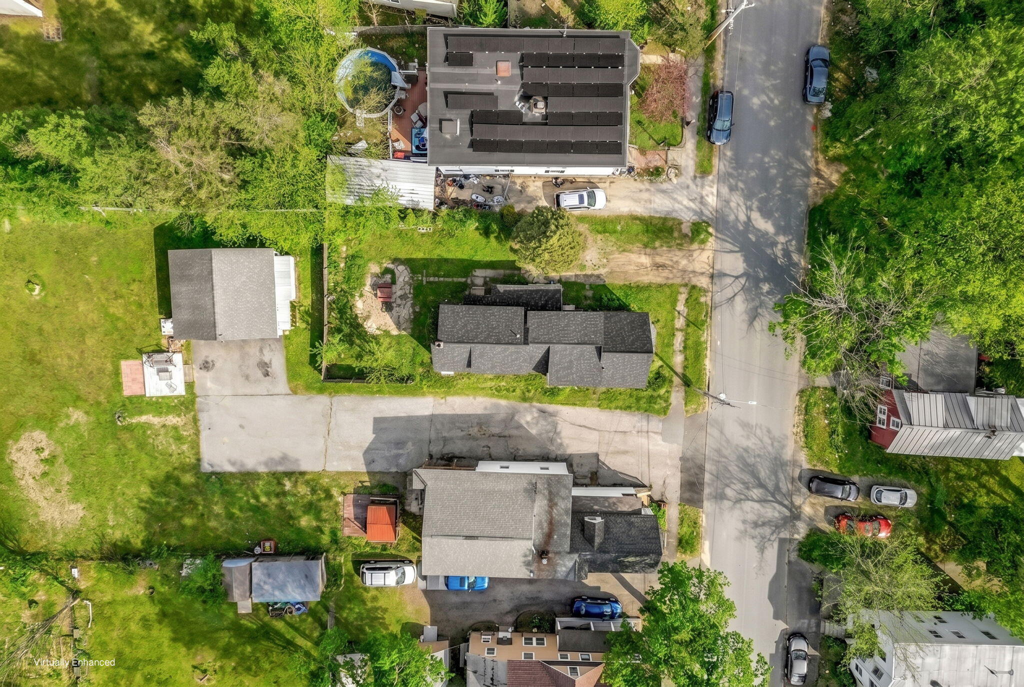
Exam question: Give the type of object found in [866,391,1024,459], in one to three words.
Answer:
house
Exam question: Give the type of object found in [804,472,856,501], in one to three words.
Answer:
car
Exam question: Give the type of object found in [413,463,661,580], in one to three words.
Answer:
house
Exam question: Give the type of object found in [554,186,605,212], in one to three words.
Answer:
car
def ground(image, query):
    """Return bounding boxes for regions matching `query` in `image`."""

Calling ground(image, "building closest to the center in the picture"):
[431,284,657,388]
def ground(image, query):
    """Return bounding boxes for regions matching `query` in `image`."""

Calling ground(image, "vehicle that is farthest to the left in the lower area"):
[363,557,417,585]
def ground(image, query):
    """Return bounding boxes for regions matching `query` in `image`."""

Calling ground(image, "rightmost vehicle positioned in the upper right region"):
[801,48,830,104]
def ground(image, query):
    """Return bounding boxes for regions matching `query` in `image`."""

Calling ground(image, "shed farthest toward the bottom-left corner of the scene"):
[222,558,254,602]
